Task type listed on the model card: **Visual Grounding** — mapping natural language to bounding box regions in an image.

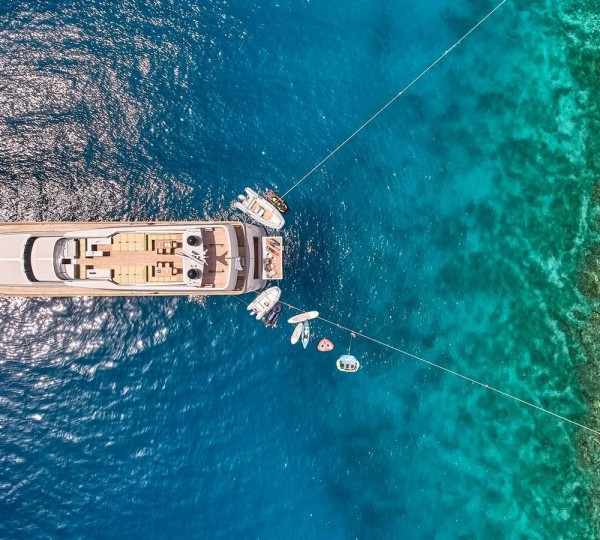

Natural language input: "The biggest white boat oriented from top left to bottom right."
[236,187,284,230]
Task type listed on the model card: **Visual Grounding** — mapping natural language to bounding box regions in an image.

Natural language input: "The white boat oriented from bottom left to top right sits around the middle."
[247,286,279,319]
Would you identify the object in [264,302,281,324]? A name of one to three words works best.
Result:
boat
